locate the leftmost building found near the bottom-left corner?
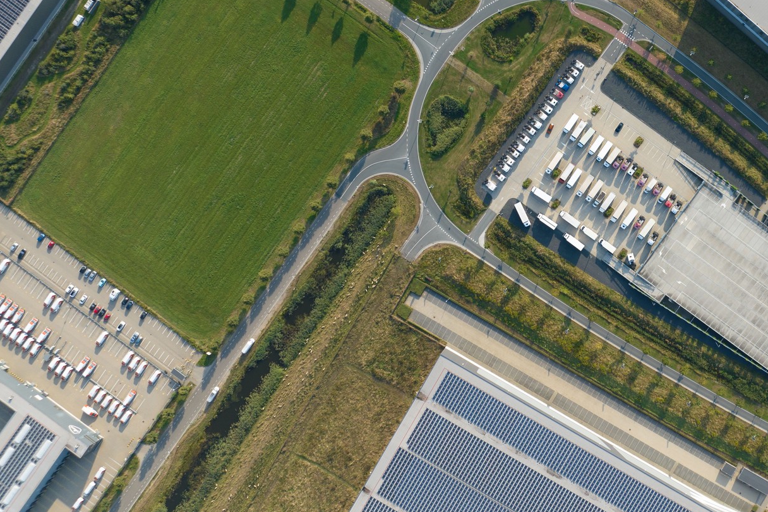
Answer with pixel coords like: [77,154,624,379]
[0,348,114,512]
